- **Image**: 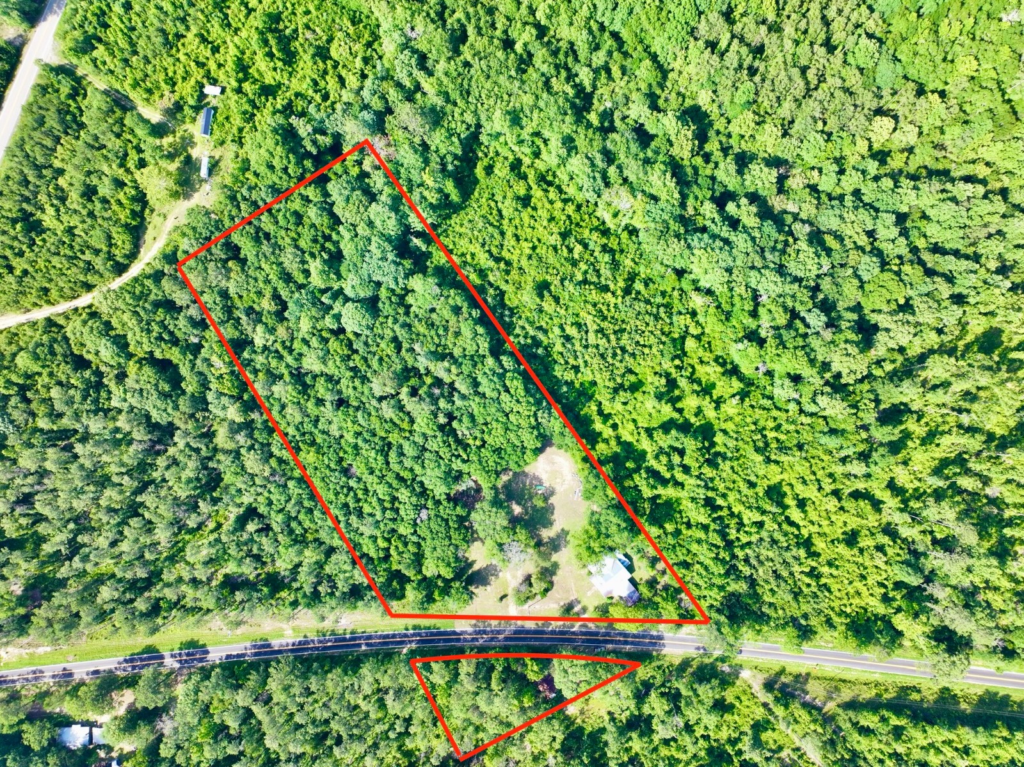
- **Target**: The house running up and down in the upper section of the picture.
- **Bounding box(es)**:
[200,107,216,138]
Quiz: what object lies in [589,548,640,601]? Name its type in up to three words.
house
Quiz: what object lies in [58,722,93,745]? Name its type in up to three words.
house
